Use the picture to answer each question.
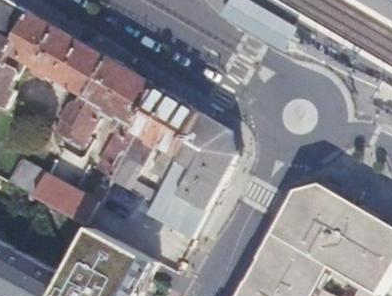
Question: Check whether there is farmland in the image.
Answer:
No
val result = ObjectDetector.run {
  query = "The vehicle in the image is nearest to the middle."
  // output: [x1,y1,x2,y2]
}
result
[203,67,224,84]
